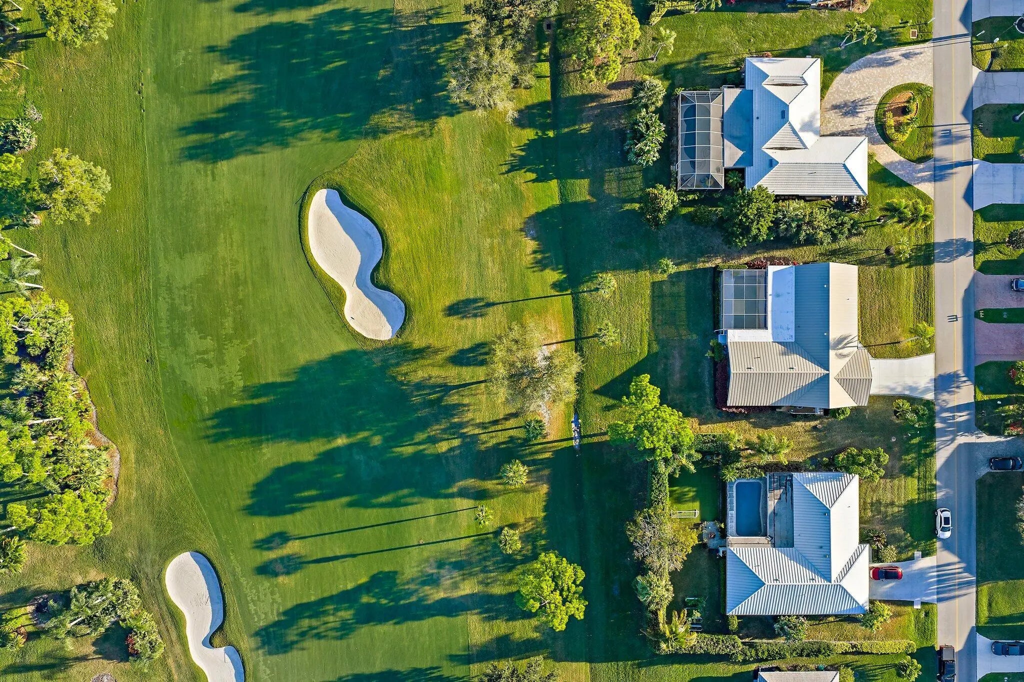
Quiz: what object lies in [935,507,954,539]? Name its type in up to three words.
car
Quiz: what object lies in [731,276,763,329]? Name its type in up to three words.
swimming pool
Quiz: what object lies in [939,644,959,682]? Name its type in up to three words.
vehicle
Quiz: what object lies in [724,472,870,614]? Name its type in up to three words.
house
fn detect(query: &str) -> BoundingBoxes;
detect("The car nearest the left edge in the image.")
[869,566,903,582]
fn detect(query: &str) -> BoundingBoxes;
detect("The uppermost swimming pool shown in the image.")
[683,104,712,175]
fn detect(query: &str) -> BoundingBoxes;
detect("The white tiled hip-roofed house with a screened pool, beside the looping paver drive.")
[724,57,868,196]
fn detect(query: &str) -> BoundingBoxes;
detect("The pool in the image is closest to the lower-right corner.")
[733,479,765,536]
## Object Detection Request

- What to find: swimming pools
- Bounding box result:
[733,479,765,536]
[731,276,763,329]
[683,104,712,175]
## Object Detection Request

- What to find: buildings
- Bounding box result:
[725,262,874,409]
[724,57,868,196]
[755,668,840,682]
[724,472,870,614]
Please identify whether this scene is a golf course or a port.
golf course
